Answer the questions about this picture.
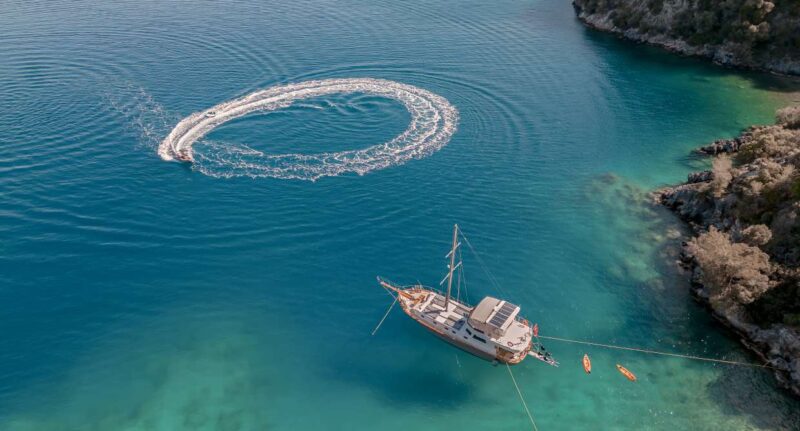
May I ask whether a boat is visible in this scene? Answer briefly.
Yes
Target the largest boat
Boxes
[376,225,561,369]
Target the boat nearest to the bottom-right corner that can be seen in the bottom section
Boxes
[616,362,638,381]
